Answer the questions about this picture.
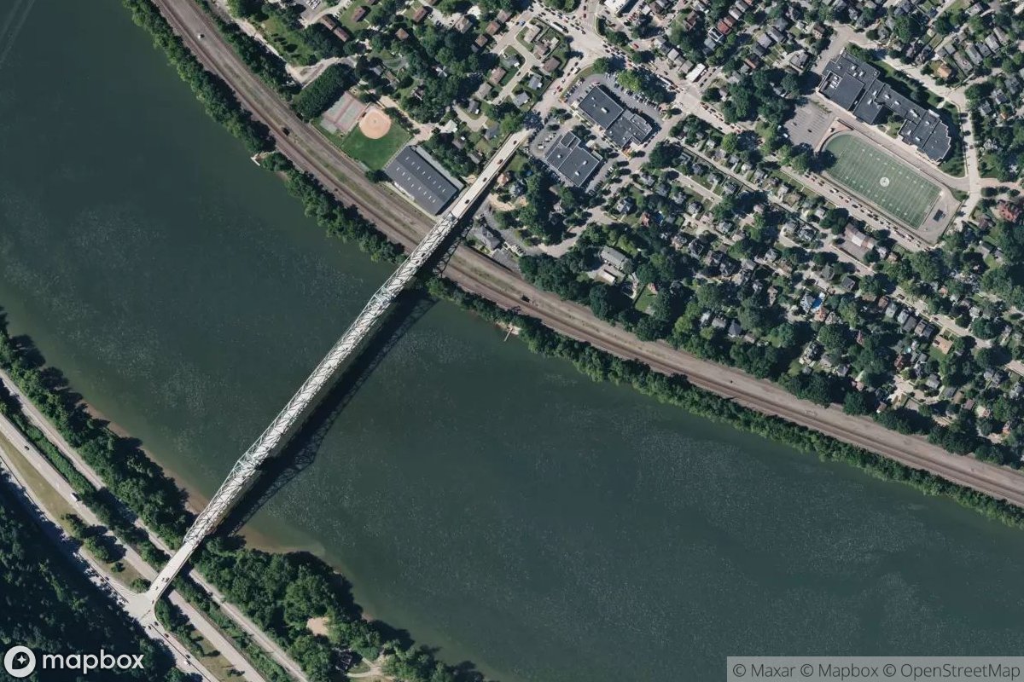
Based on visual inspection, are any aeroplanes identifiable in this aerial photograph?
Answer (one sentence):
No, there's no aeroplane here.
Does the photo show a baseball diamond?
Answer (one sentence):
Yes, I can see a baseball diamond in this picture.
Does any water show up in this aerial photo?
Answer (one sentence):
Yes, water shows up in the scene.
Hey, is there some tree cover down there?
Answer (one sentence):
Yes, the picture does contain tree cover.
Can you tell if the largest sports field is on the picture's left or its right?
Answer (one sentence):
The largest sports field appears in the right half of the scene.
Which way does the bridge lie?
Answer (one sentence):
Seen from above, the bridge lies diagonally.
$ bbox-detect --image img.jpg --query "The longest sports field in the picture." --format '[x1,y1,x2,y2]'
[820,130,966,243]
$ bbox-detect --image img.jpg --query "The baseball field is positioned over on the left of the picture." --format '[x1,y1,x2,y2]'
[341,108,413,169]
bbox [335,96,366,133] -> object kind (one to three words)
tennis court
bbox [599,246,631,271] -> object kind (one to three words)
house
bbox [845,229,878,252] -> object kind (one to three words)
building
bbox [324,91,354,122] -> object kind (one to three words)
tennis court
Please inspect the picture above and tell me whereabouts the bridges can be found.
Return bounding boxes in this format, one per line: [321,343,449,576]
[147,131,524,600]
